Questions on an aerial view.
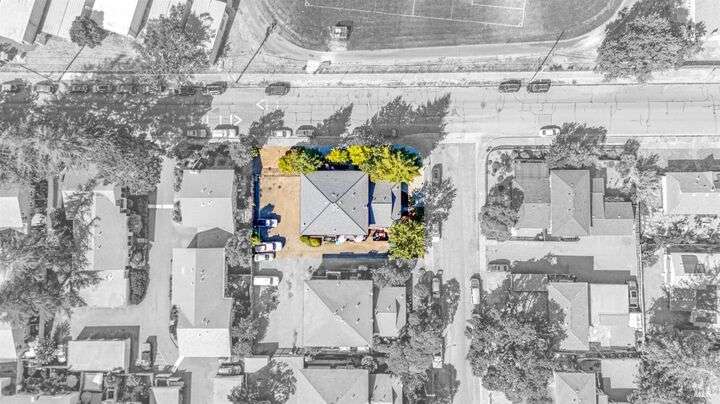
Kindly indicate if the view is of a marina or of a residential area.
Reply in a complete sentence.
This looks like a residential area.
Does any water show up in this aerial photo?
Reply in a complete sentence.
No, there is no water in the image.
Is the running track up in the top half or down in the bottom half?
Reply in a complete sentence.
It is in the top half that the running track appears.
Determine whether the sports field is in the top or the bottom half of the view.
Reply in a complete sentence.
You can find the sports field in the top half.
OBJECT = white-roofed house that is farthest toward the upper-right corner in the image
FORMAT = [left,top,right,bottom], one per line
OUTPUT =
[657,171,720,216]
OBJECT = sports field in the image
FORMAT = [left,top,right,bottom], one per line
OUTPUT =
[232,0,634,64]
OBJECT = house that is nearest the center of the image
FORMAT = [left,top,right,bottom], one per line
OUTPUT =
[299,169,401,237]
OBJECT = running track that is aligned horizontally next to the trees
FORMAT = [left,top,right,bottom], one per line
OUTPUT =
[232,0,634,64]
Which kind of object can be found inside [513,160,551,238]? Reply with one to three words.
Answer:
house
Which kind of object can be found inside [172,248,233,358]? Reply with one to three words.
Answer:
house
